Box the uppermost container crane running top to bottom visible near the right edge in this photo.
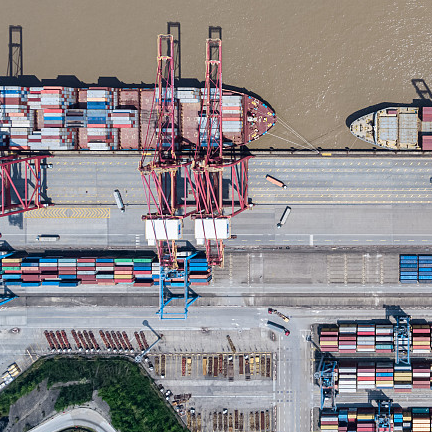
[392,307,412,362]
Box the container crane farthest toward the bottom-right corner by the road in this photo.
[377,387,395,432]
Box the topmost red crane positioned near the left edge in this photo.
[0,156,58,237]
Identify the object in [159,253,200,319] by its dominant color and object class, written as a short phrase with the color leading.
blue container crane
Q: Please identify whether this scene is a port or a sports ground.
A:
port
